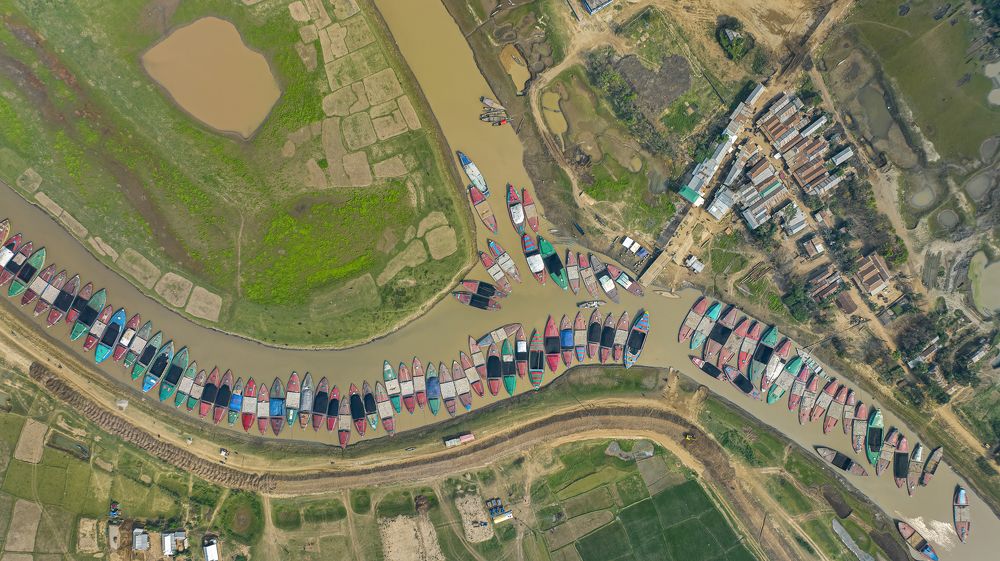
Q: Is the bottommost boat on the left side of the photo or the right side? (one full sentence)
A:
It is on the right.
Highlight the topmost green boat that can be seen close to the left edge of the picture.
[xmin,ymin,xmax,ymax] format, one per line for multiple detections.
[7,246,48,299]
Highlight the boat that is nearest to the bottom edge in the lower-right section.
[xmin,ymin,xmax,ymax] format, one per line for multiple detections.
[894,519,939,561]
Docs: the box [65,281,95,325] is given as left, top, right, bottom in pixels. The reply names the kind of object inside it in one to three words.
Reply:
boat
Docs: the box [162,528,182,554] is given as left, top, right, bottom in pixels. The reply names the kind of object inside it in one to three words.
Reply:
house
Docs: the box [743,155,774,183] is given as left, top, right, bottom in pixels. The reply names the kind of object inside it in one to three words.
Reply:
shed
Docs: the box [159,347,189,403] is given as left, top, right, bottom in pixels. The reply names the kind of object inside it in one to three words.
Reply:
boat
